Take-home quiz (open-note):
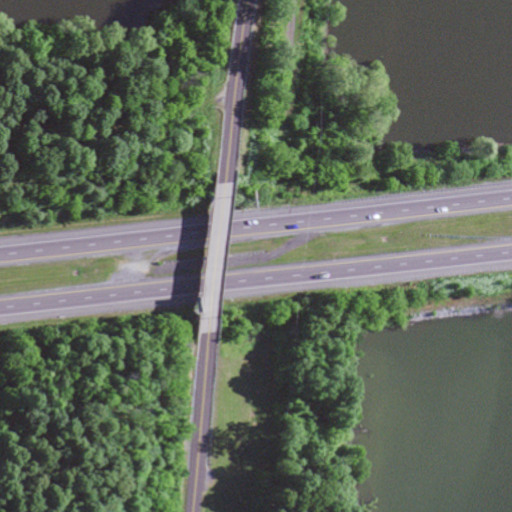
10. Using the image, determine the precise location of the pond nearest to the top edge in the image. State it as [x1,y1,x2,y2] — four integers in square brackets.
[0,0,171,28]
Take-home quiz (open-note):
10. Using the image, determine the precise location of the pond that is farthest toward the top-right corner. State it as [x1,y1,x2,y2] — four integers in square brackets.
[325,0,512,148]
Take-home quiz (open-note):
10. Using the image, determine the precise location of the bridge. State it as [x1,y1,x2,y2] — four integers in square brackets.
[200,178,236,337]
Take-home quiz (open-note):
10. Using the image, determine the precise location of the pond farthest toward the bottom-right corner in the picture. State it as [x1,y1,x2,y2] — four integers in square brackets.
[356,308,512,512]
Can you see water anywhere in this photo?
Yes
